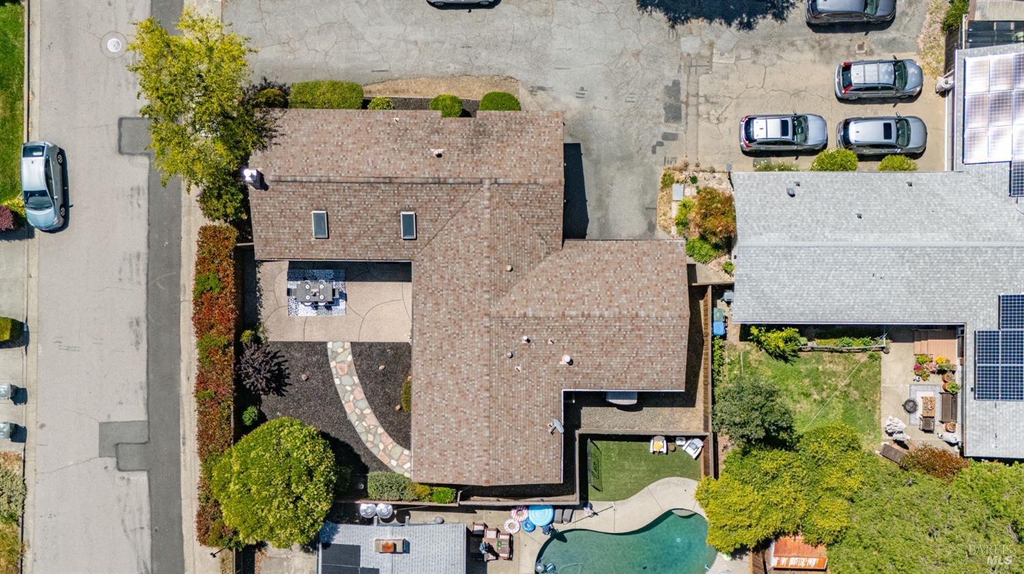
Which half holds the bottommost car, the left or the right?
left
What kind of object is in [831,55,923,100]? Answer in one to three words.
car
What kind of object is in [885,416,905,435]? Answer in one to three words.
umbrella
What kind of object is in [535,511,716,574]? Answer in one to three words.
swimming pool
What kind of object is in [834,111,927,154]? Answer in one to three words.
car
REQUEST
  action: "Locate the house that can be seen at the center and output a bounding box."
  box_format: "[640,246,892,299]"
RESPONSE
[246,109,689,489]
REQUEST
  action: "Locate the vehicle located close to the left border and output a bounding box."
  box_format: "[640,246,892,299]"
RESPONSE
[22,141,72,232]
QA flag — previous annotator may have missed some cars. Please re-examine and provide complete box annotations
[834,111,927,154]
[831,55,923,100]
[803,0,895,26]
[738,109,828,153]
[22,141,72,232]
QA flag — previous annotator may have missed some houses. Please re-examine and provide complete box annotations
[246,109,689,489]
[316,516,468,574]
[728,34,1024,460]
